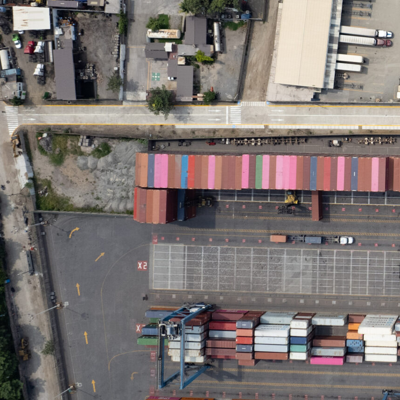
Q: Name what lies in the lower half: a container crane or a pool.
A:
container crane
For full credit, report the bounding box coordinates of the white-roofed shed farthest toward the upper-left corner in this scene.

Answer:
[13,6,55,31]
